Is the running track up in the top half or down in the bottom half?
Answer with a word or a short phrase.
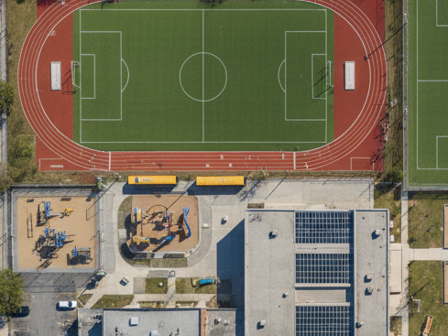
top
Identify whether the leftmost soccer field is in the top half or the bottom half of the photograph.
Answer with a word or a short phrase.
top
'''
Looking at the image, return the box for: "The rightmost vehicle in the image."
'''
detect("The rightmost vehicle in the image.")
[197,175,248,188]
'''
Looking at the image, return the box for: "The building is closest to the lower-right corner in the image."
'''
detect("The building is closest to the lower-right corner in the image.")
[245,209,393,336]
